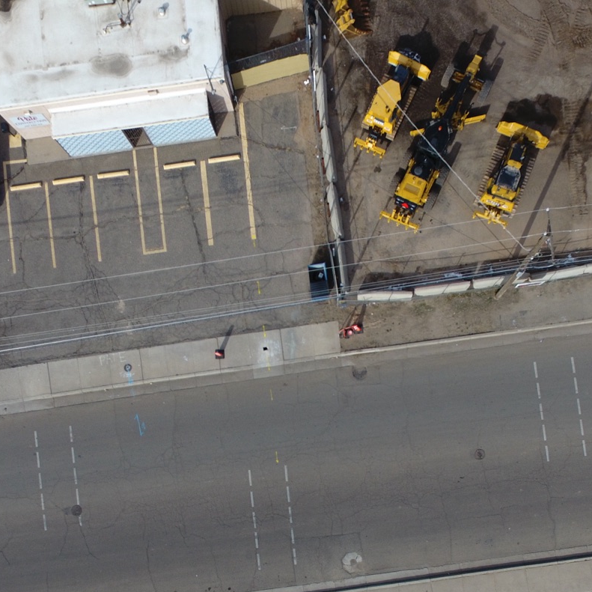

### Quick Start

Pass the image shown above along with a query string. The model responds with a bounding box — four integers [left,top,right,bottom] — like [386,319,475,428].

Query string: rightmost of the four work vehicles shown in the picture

[476,122,555,226]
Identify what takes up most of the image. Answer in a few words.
paved ground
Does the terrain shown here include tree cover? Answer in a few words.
No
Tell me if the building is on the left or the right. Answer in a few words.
left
